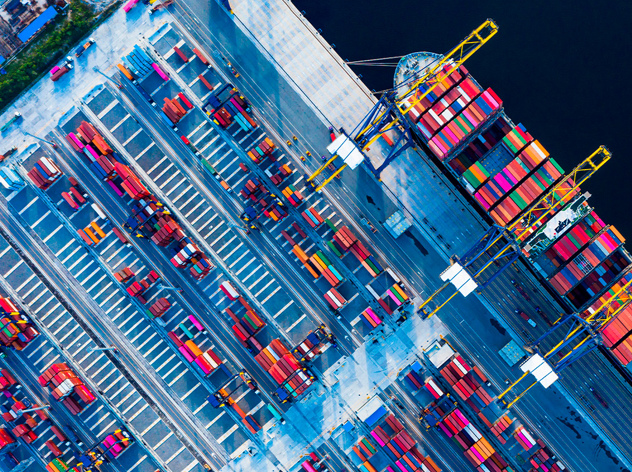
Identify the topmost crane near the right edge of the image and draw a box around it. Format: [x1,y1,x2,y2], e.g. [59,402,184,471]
[418,144,613,318]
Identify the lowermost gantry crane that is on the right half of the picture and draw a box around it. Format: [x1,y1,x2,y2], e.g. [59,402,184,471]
[418,387,461,429]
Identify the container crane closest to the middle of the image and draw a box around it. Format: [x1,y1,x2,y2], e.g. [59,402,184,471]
[243,193,294,238]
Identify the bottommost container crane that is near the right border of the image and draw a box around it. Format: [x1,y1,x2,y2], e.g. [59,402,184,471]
[497,279,632,409]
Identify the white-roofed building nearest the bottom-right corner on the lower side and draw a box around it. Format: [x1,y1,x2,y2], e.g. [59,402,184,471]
[425,341,454,366]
